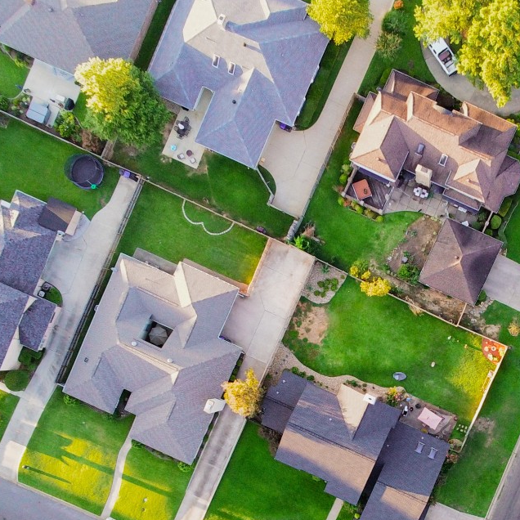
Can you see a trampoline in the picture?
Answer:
Yes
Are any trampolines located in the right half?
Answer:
No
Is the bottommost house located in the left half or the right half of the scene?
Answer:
right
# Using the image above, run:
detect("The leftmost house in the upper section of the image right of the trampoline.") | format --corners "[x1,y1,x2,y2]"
[148,0,334,169]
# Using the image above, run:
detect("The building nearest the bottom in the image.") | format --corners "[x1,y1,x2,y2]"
[261,369,451,520]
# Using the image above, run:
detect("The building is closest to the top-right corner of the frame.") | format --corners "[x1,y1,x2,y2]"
[349,68,520,216]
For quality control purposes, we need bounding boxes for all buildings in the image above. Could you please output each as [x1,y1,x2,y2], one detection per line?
[261,369,451,520]
[62,253,243,465]
[0,0,162,78]
[148,0,334,169]
[349,68,520,216]
[0,190,69,374]
[419,217,504,306]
